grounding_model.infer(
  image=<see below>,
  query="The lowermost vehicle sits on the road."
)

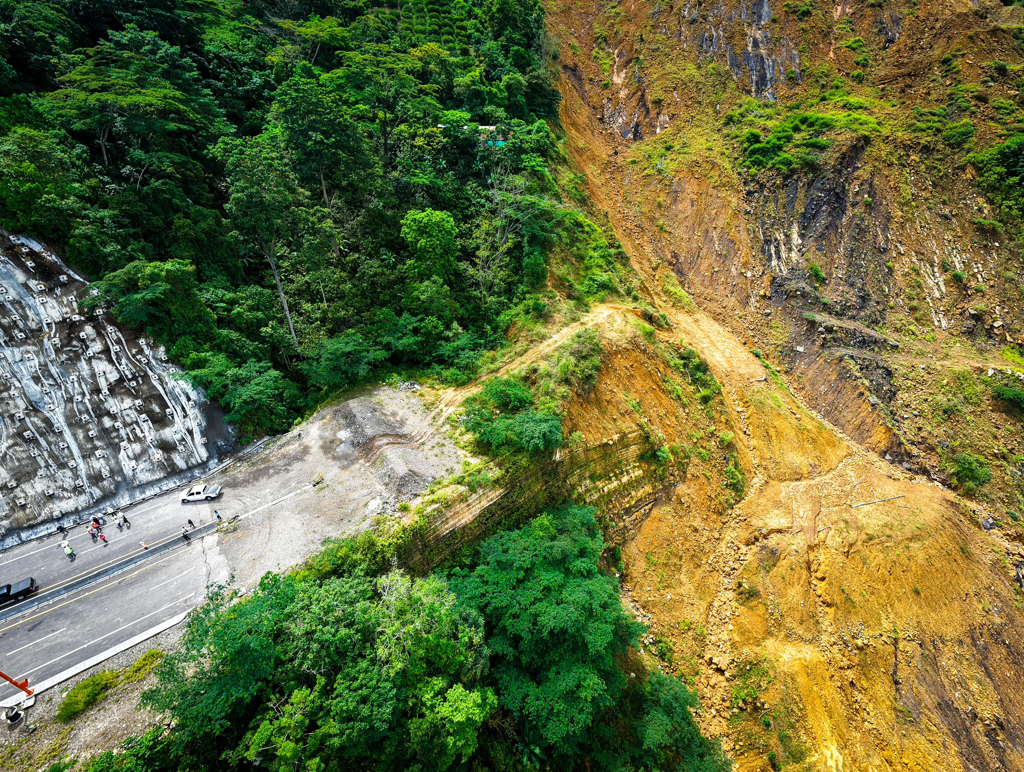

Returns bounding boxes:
[0,576,32,606]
